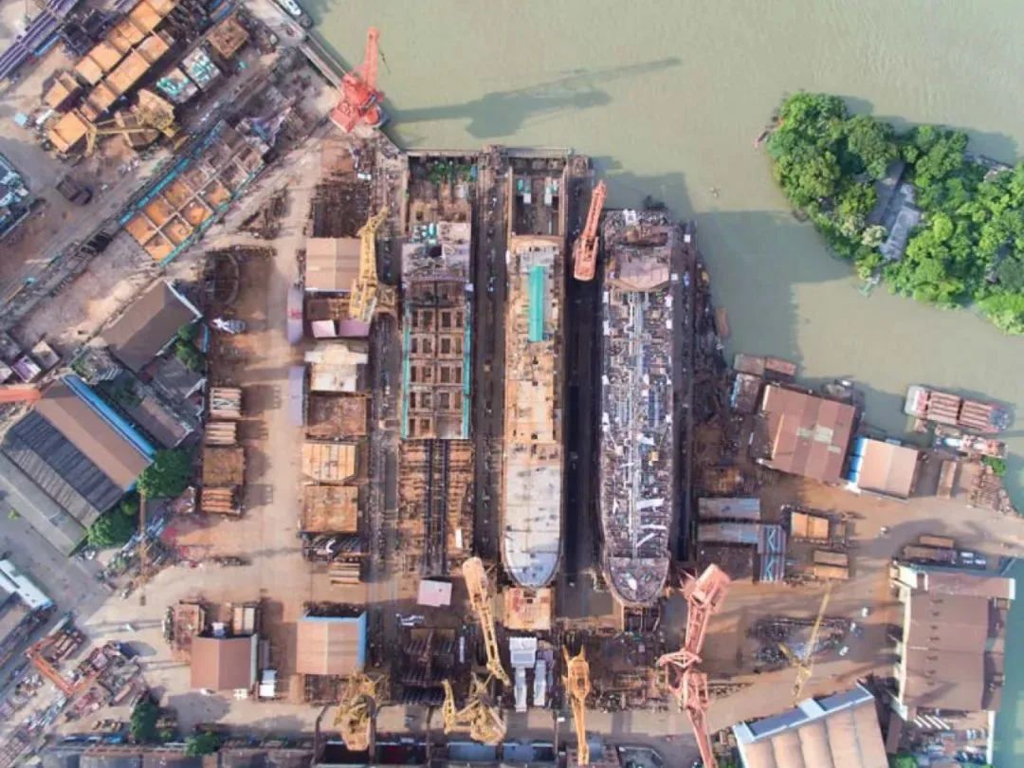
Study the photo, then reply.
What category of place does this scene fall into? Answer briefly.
port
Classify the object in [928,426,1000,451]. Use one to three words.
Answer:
boat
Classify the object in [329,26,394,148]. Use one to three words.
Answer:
crane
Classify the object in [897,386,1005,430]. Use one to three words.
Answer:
ship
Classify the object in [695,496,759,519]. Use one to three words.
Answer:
shed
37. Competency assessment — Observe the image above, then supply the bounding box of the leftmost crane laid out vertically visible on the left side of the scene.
[125,506,155,608]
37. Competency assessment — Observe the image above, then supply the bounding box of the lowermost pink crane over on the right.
[662,654,714,768]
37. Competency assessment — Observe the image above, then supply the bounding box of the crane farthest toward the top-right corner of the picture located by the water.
[567,181,601,282]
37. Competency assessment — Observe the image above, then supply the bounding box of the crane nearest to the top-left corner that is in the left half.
[92,99,196,152]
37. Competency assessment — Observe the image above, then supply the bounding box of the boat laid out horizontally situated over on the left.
[213,320,243,332]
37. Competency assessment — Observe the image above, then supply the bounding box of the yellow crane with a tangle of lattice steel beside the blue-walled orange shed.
[342,642,383,751]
